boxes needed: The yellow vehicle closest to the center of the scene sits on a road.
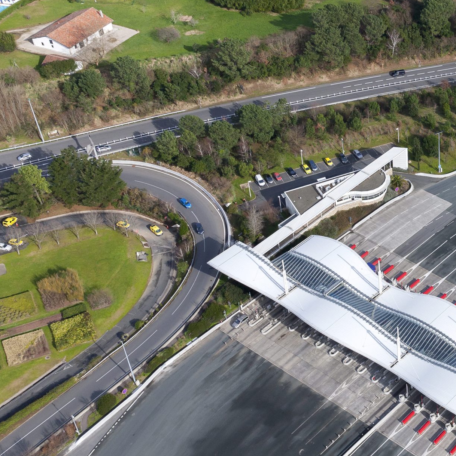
[150,223,163,236]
